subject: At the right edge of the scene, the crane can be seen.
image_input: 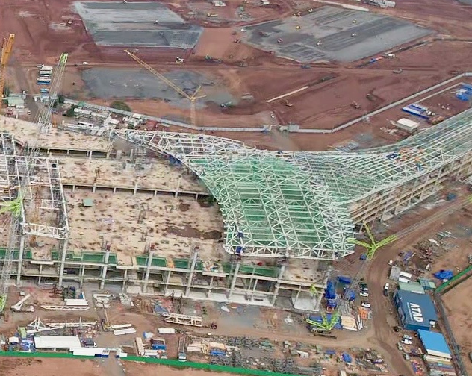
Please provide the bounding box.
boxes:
[308,193,472,338]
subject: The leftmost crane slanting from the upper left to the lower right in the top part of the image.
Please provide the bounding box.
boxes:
[124,49,206,133]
